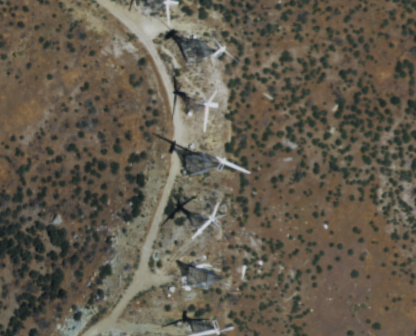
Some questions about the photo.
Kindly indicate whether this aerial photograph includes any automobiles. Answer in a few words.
No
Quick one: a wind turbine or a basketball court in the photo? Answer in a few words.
wind turbine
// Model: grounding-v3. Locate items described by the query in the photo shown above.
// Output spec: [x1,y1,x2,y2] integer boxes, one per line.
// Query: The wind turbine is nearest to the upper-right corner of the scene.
[185,33,246,64]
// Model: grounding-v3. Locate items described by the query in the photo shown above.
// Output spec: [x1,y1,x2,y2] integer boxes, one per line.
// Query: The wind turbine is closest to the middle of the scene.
[184,152,248,177]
